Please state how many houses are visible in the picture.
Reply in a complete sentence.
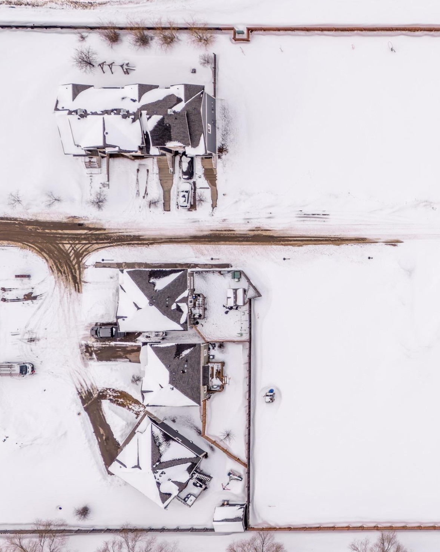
The number of houses here is 4.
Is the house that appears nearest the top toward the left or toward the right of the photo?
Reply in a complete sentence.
You can find the house that appears nearest the top on the left side of the picture.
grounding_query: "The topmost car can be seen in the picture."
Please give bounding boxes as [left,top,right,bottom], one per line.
[180,155,194,183]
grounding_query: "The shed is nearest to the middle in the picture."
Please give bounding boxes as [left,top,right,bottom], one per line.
[227,288,247,307]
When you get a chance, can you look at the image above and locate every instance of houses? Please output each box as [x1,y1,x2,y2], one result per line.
[54,84,216,181]
[140,342,228,407]
[117,268,205,331]
[109,410,213,509]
